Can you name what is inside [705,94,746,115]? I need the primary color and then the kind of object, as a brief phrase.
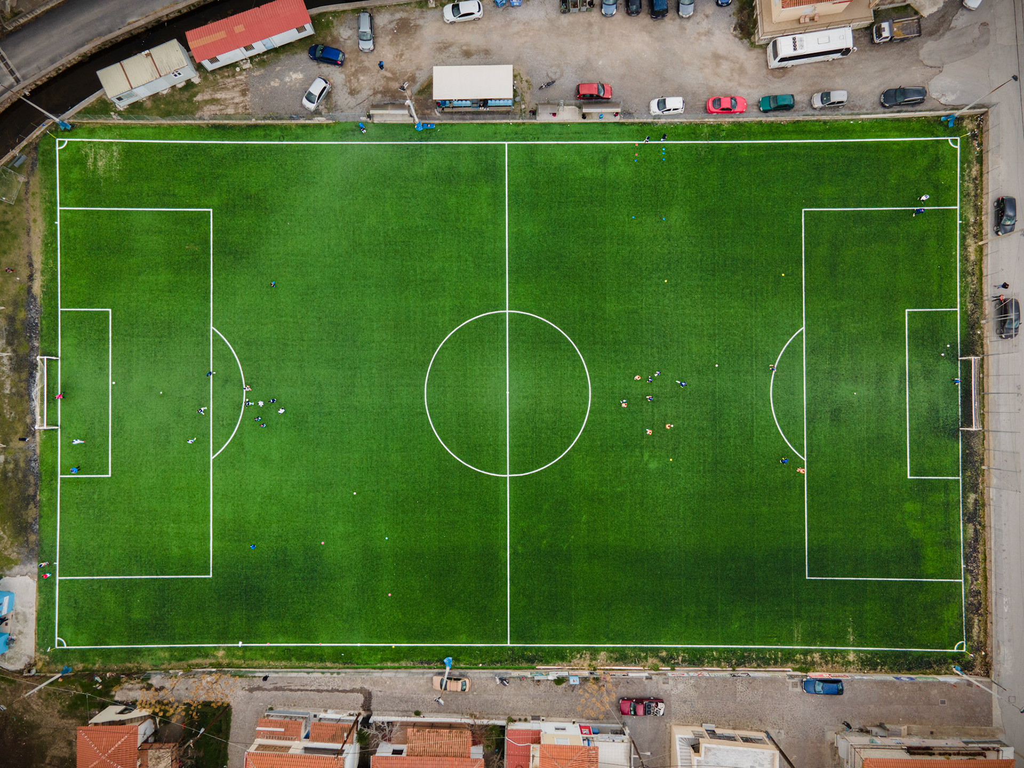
red car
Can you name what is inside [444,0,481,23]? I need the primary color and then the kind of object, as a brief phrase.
white car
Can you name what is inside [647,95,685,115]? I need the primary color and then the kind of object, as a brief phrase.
white car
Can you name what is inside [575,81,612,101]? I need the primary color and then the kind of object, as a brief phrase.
red car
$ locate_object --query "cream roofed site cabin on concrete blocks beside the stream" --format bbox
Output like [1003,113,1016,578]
[97,39,198,108]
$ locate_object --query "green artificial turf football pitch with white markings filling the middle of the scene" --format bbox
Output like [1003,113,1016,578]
[35,118,991,675]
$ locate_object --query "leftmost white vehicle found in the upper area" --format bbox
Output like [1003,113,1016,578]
[303,75,331,112]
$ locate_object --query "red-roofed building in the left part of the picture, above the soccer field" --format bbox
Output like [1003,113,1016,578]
[184,0,314,70]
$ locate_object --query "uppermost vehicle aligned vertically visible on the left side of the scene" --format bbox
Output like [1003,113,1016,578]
[355,11,375,55]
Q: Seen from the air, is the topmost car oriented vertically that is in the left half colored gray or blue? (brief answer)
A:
gray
